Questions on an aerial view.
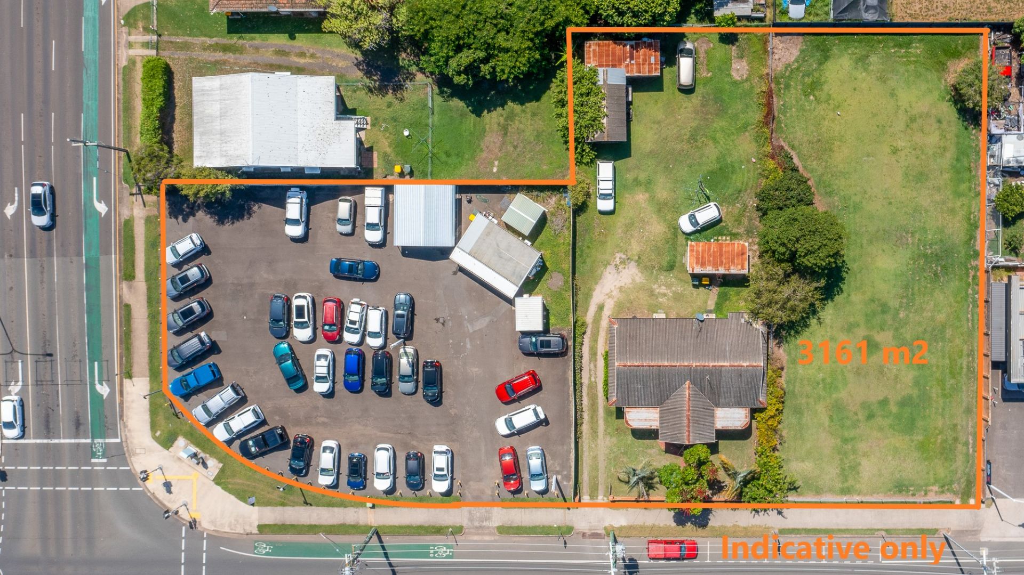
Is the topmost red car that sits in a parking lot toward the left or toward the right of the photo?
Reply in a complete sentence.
The topmost red car that sits in a parking lot appears in the left half of the scene.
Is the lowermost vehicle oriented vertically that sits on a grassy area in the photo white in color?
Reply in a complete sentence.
Yes, the lowermost vehicle oriented vertically that sits on a grassy area is indeed white.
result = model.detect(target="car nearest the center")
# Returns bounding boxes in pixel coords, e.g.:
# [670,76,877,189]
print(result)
[518,332,567,355]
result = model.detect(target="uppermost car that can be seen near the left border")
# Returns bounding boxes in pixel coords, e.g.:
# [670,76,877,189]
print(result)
[30,182,55,229]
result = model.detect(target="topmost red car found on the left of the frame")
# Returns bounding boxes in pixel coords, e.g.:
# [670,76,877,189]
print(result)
[319,298,342,342]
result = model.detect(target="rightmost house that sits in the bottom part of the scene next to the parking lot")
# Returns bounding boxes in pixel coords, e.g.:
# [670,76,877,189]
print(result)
[607,312,768,451]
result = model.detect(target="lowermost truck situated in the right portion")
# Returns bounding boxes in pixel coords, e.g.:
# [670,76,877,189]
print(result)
[648,538,697,562]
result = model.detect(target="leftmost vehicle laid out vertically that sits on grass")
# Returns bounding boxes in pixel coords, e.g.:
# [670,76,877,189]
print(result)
[594,161,618,213]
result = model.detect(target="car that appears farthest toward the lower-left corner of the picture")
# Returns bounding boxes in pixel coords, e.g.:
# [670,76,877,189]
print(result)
[1,395,25,438]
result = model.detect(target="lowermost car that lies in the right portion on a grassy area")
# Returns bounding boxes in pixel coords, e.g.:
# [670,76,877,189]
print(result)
[678,200,722,233]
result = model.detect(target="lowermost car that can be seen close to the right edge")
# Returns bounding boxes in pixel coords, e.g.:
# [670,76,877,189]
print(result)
[1002,370,1024,393]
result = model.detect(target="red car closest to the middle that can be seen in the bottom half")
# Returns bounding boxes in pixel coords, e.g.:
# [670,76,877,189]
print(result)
[496,370,541,402]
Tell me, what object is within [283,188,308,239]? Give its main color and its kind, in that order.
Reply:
white vehicle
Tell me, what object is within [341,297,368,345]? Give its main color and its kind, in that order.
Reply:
white car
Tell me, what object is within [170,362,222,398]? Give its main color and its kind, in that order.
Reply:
blue vehicle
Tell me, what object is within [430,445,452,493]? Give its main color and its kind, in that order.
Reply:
white car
